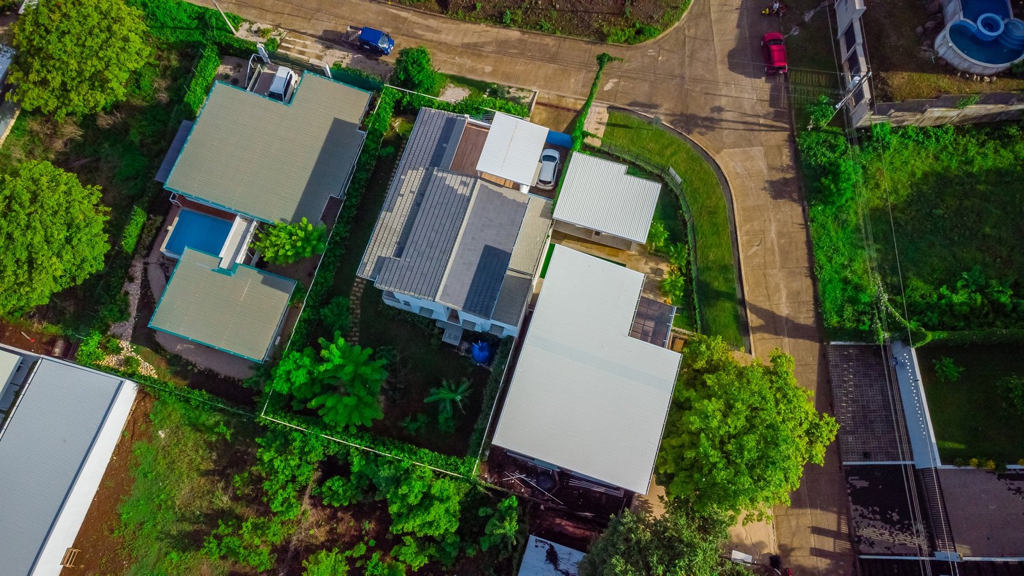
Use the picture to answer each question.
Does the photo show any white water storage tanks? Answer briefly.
No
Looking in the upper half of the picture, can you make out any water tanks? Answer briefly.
No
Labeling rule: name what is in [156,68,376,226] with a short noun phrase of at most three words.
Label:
house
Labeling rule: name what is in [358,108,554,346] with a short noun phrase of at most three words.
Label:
house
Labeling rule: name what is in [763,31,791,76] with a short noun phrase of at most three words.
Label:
car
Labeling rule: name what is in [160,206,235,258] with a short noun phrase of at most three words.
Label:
swimming pool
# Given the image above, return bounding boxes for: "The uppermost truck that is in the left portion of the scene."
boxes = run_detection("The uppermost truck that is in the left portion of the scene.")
[339,21,396,57]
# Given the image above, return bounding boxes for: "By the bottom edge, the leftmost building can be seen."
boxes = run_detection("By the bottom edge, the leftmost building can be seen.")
[0,351,148,576]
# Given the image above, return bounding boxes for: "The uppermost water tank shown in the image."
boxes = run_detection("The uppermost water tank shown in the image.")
[469,339,493,364]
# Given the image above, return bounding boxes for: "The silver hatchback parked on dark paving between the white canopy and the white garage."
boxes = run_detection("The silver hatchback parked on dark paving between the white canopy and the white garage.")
[536,146,561,191]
